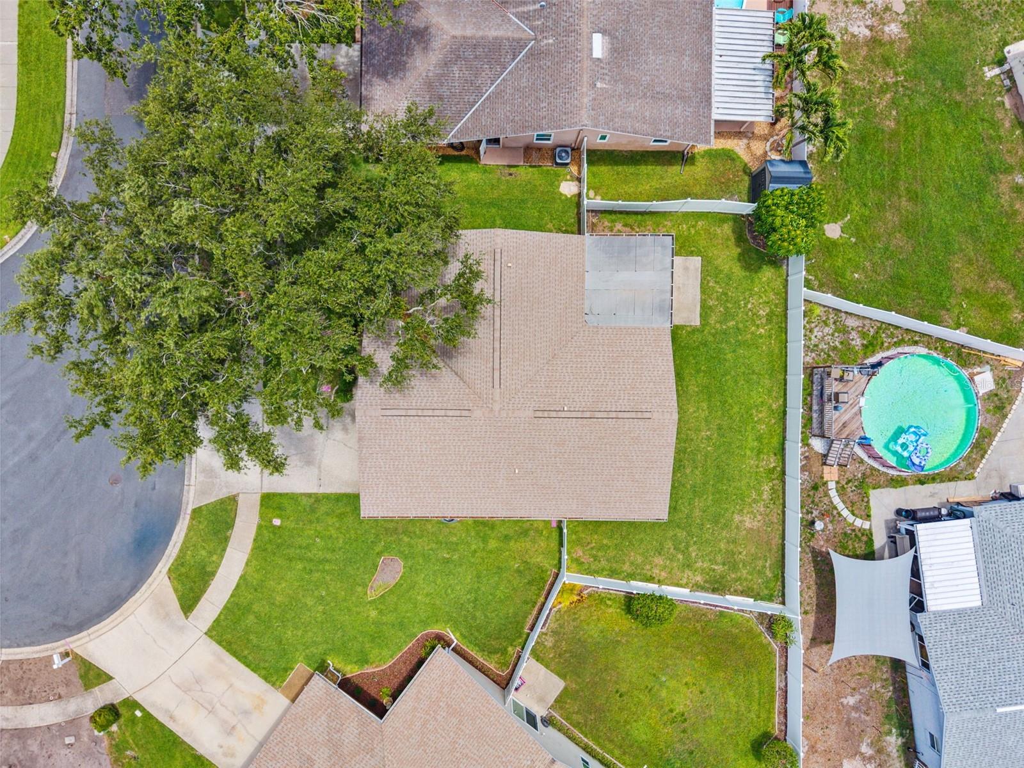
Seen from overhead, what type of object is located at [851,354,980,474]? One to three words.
swimming pool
